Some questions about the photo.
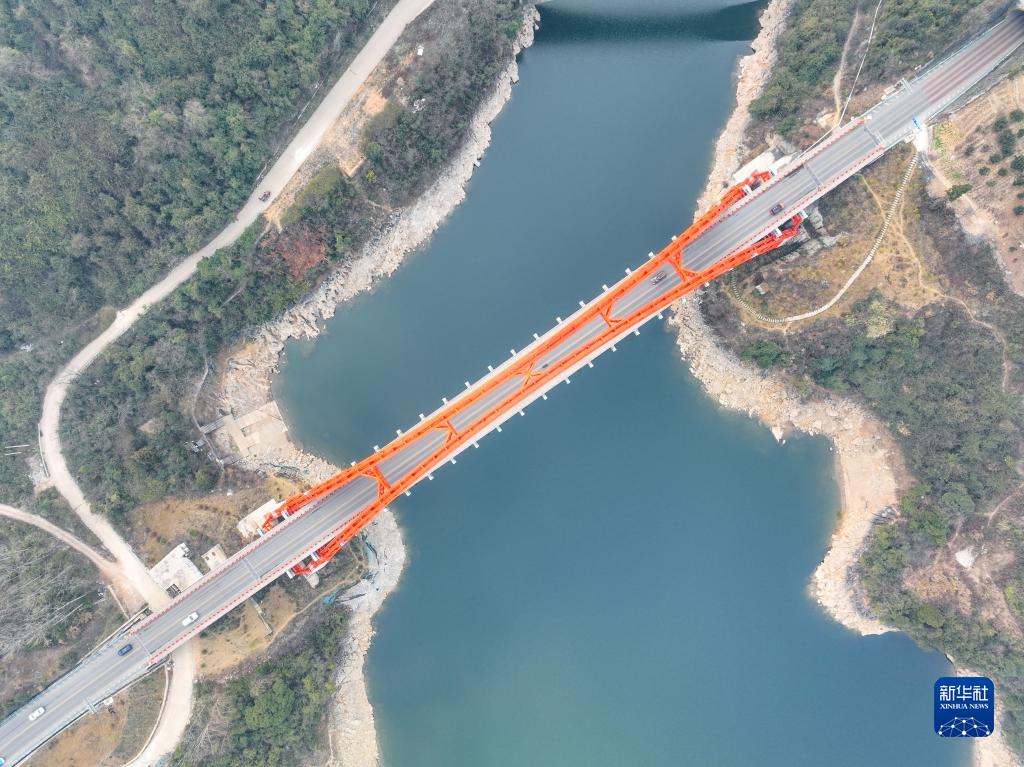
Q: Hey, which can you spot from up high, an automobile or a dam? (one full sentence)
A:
I can see an automobile in this picture.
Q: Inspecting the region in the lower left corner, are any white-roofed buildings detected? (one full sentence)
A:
Yes, a white-roofed building is visible in the lower left corner.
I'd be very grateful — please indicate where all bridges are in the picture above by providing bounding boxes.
[111,104,887,667]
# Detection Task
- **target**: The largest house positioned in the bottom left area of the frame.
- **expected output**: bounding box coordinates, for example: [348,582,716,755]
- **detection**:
[148,541,210,601]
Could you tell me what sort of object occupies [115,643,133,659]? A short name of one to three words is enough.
car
